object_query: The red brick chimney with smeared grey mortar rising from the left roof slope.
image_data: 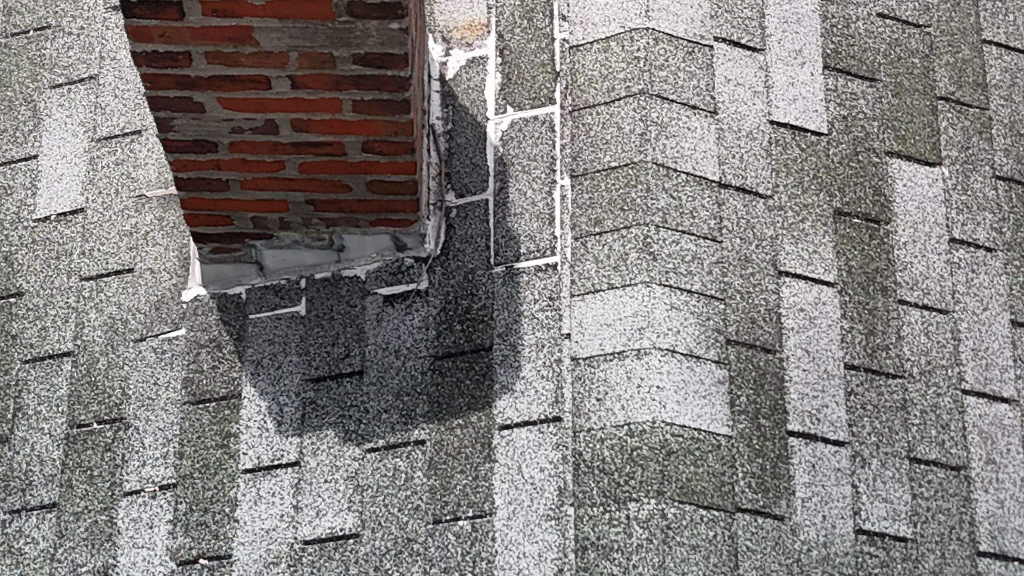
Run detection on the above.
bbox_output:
[118,0,443,296]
